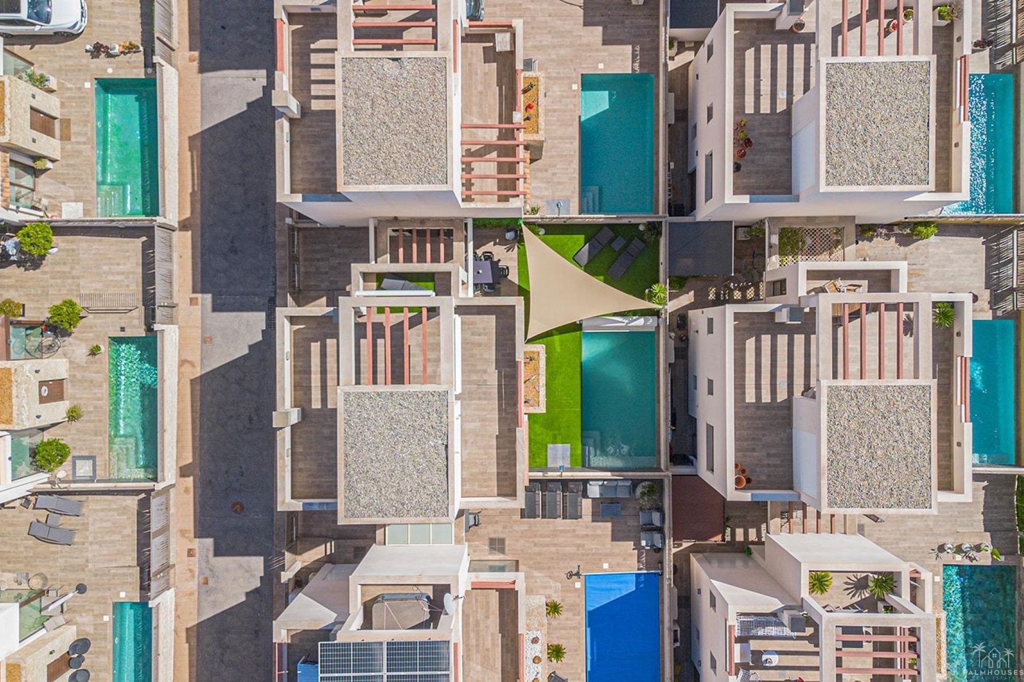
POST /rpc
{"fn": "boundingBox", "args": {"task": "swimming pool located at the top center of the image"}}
[579,71,656,215]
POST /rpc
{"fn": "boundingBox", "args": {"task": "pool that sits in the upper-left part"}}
[93,76,156,216]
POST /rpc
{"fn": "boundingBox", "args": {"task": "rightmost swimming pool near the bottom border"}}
[941,563,1014,682]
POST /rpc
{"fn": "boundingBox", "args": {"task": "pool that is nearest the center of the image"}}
[580,329,657,467]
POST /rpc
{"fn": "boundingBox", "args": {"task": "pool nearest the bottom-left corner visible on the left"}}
[110,600,156,682]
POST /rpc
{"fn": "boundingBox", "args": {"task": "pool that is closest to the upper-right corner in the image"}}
[939,71,1015,215]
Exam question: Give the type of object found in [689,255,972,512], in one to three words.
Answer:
house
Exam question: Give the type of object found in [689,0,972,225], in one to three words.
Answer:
house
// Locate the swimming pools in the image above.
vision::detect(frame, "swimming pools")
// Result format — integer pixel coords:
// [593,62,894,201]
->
[579,71,656,215]
[939,71,1015,215]
[110,600,156,682]
[580,329,657,467]
[583,571,662,682]
[941,563,1014,682]
[93,76,156,216]
[106,334,156,477]
[960,318,1015,462]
